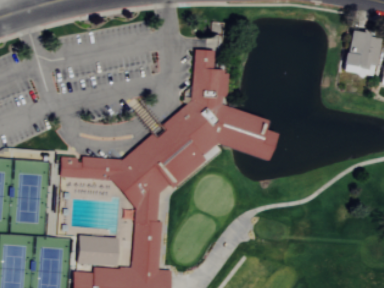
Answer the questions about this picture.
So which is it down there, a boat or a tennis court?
tennis court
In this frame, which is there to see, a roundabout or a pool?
pool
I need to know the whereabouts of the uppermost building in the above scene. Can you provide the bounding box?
[346,31,384,78]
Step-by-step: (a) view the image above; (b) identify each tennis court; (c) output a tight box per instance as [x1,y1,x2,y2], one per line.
[0,235,35,288]
[10,160,50,234]
[0,158,14,232]
[32,236,72,288]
